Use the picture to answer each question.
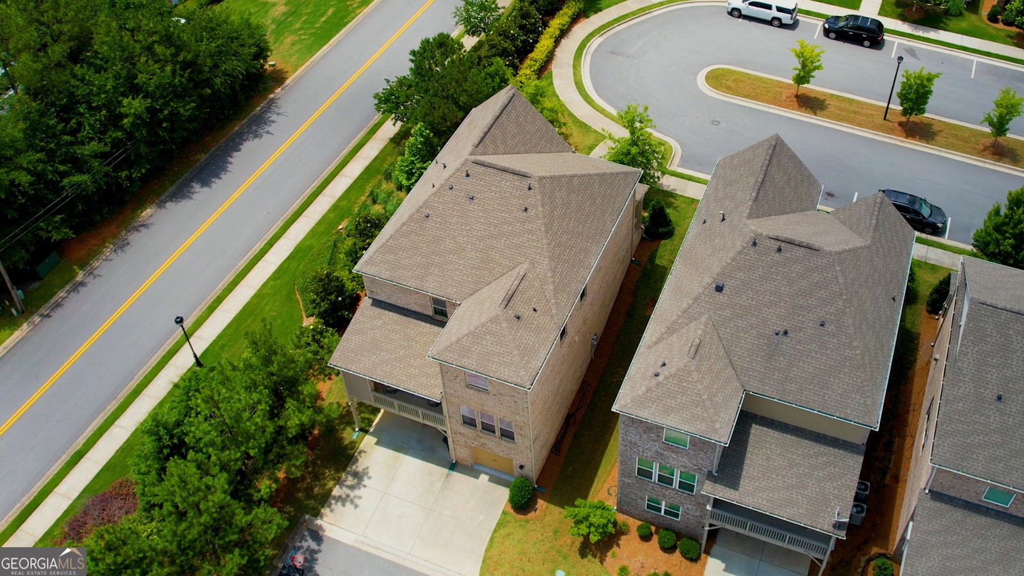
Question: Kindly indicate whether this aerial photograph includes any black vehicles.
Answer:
Yes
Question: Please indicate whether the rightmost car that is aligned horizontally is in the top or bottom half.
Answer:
top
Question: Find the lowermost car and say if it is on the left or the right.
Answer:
right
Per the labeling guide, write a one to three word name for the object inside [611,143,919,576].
house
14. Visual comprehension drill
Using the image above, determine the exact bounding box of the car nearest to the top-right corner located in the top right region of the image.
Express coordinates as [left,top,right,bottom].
[823,16,888,48]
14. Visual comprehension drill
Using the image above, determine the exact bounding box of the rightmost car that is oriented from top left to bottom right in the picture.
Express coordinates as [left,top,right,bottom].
[876,186,948,233]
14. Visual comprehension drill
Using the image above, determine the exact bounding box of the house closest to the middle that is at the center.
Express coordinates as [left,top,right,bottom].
[326,87,655,490]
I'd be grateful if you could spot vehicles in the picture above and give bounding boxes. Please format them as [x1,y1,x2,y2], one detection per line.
[876,186,948,233]
[725,0,797,27]
[823,16,888,48]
